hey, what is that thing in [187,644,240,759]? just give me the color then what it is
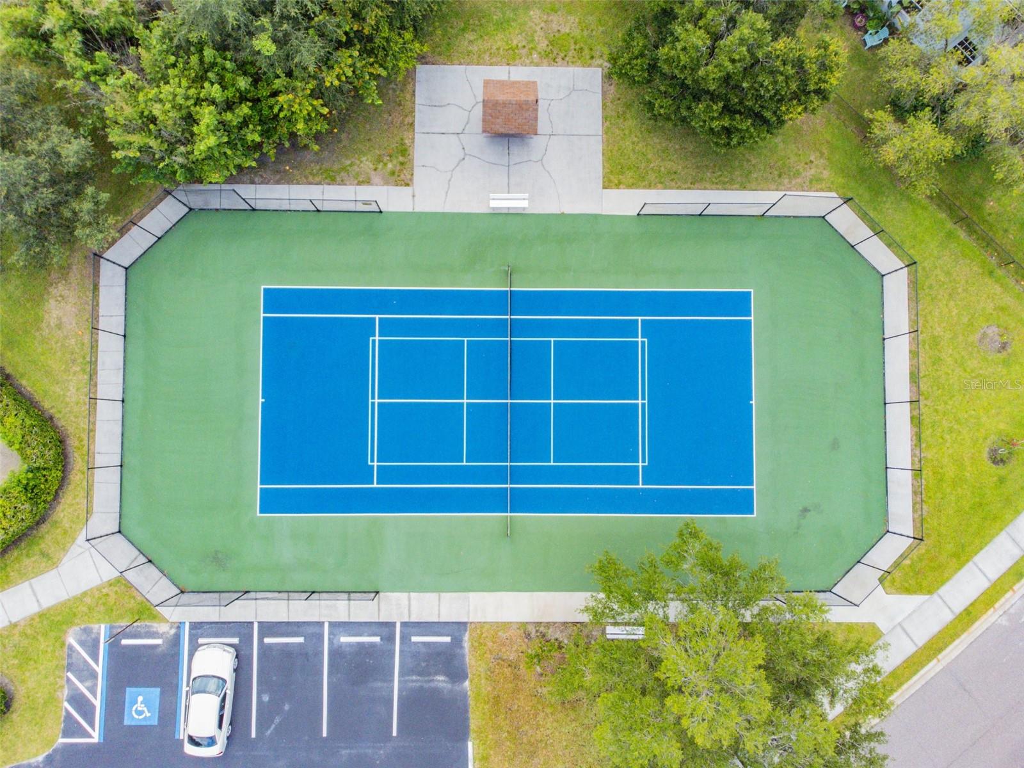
white car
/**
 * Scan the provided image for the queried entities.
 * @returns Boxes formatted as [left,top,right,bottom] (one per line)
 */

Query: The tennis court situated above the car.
[121,210,887,591]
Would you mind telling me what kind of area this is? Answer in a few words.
sports ground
